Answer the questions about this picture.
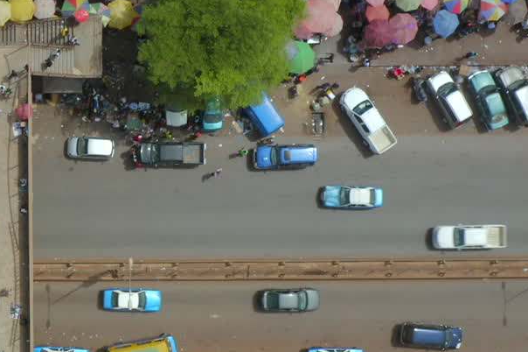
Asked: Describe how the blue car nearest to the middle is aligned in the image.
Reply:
horizontally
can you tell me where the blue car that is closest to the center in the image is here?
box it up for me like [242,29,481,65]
[250,141,317,172]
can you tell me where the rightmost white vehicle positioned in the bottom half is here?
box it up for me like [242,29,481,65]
[430,222,506,251]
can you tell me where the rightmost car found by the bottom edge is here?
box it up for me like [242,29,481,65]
[396,321,461,352]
